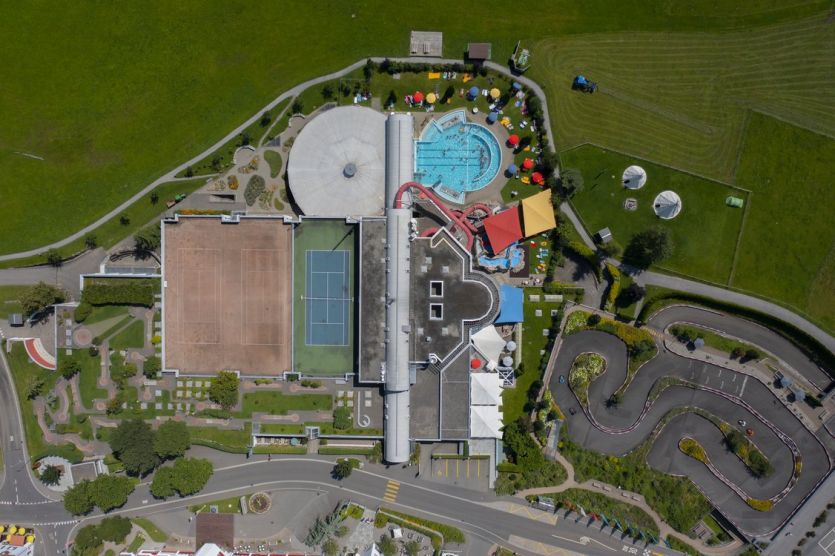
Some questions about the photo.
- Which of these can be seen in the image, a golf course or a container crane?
golf course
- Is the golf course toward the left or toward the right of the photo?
left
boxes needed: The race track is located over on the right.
[548,304,835,537]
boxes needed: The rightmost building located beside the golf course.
[411,220,501,440]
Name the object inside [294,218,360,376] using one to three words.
tennis court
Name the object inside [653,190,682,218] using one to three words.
tent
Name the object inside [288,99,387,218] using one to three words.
building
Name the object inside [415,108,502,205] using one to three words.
swimming pool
